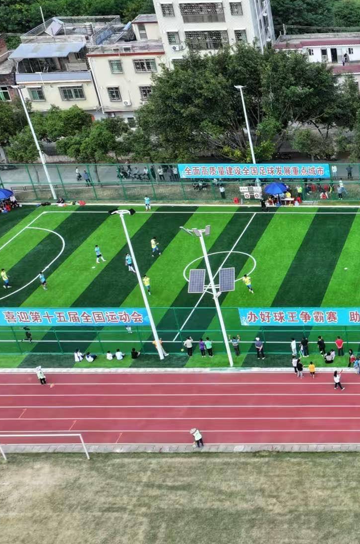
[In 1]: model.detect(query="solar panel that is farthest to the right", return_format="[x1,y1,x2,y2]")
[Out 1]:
[219,270,238,295]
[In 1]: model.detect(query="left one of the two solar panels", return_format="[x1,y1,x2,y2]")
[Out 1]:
[188,270,207,295]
